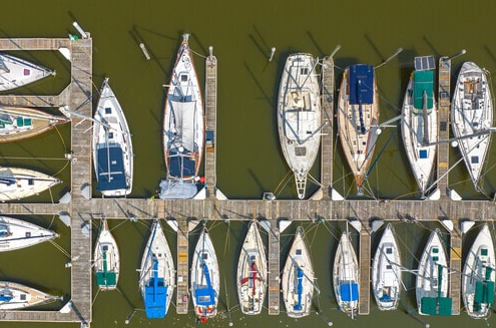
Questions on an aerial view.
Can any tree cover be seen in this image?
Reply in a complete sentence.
No, there is no tree cover in the image.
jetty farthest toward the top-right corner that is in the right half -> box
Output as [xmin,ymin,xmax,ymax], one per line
[436,56,450,199]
